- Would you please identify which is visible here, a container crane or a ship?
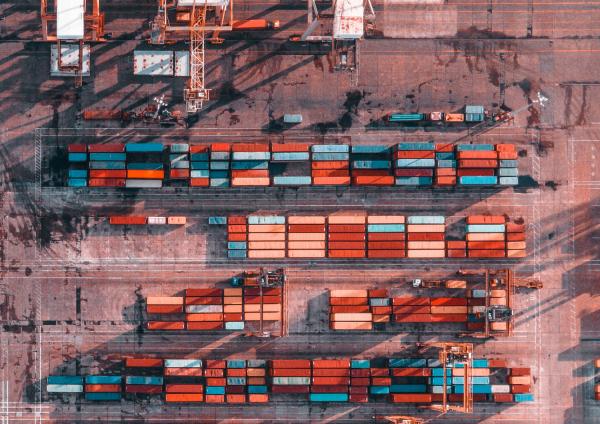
container crane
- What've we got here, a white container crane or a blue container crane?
white container crane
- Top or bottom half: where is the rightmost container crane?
bottom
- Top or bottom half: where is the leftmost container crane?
top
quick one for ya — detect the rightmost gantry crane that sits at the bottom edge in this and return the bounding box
[422,341,474,415]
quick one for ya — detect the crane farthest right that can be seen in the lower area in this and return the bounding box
[462,266,516,338]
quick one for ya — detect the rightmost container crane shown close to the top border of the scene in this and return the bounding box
[274,0,379,92]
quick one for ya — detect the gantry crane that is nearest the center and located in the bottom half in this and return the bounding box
[247,266,291,338]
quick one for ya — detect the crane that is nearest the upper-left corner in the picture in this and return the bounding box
[30,0,112,90]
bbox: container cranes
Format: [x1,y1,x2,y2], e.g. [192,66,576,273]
[247,266,291,338]
[144,0,243,110]
[462,266,516,338]
[30,0,112,90]
[422,341,474,415]
[274,0,379,92]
